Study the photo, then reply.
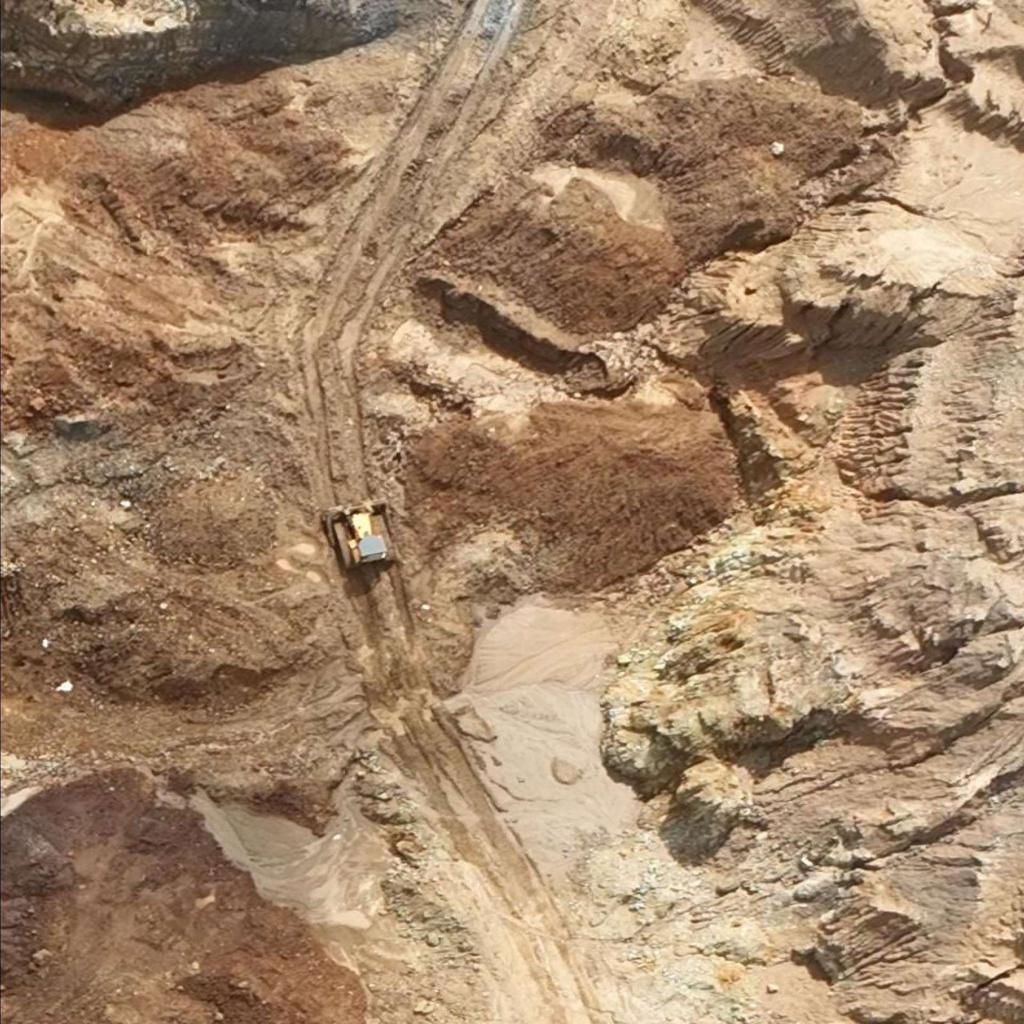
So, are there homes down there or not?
No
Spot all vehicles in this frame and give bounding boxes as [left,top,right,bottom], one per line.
[331,498,394,566]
